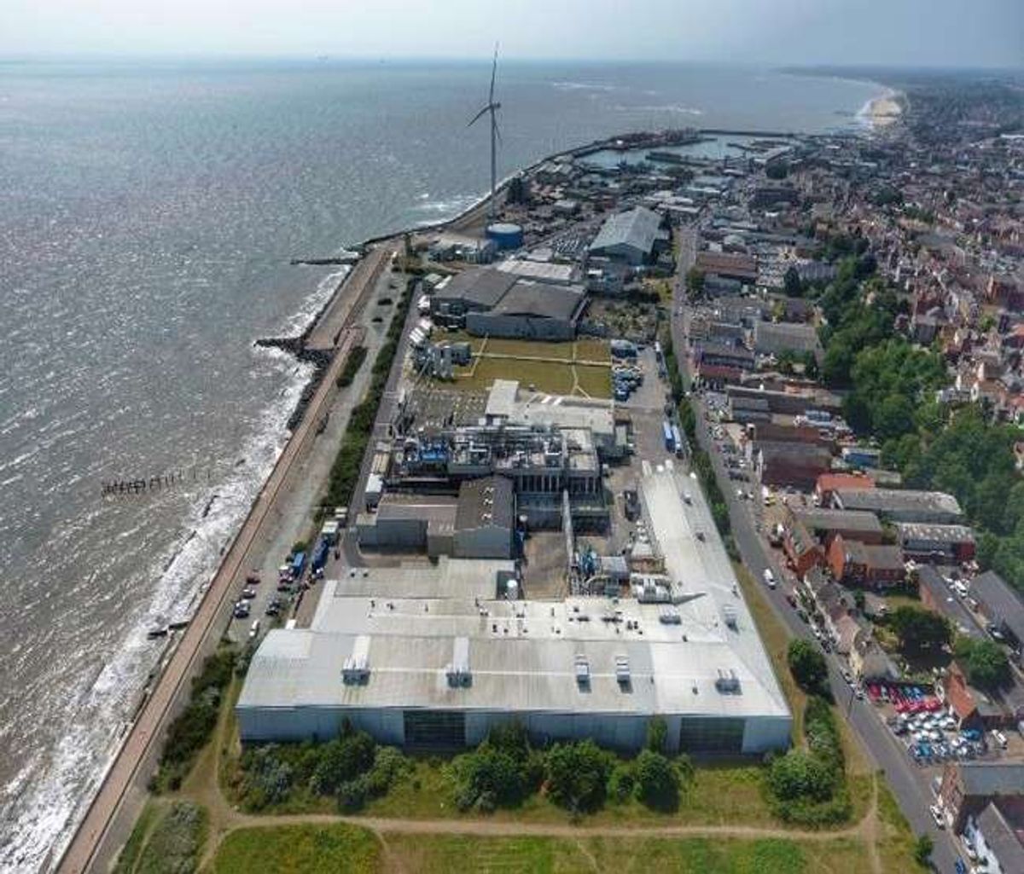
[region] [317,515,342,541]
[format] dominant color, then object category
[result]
white vehicle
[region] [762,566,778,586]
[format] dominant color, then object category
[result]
white vehicle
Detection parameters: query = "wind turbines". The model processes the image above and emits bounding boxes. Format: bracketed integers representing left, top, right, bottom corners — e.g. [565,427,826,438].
[465,41,502,226]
